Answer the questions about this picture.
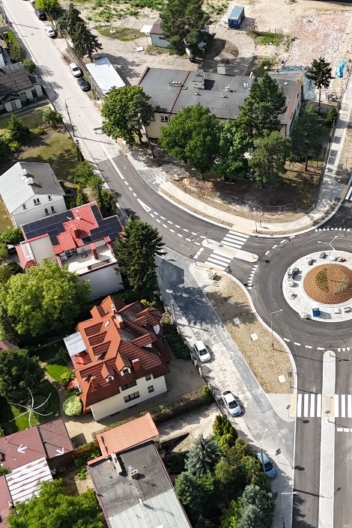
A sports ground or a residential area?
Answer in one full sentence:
This looks like a residential area.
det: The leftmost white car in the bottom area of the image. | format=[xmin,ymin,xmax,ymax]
[193,340,213,364]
